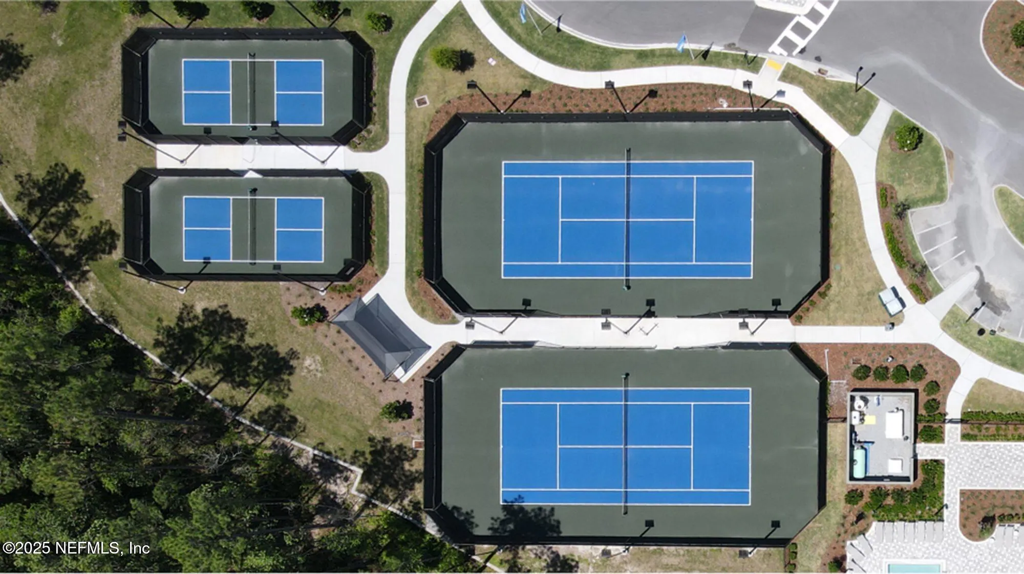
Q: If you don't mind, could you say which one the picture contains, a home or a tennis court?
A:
tennis court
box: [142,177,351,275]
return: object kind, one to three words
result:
sports court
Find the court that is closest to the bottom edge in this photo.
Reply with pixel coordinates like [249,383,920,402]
[434,349,819,545]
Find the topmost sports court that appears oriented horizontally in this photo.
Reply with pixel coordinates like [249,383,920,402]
[141,39,352,143]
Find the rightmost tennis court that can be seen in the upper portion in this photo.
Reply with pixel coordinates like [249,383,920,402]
[434,121,822,317]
